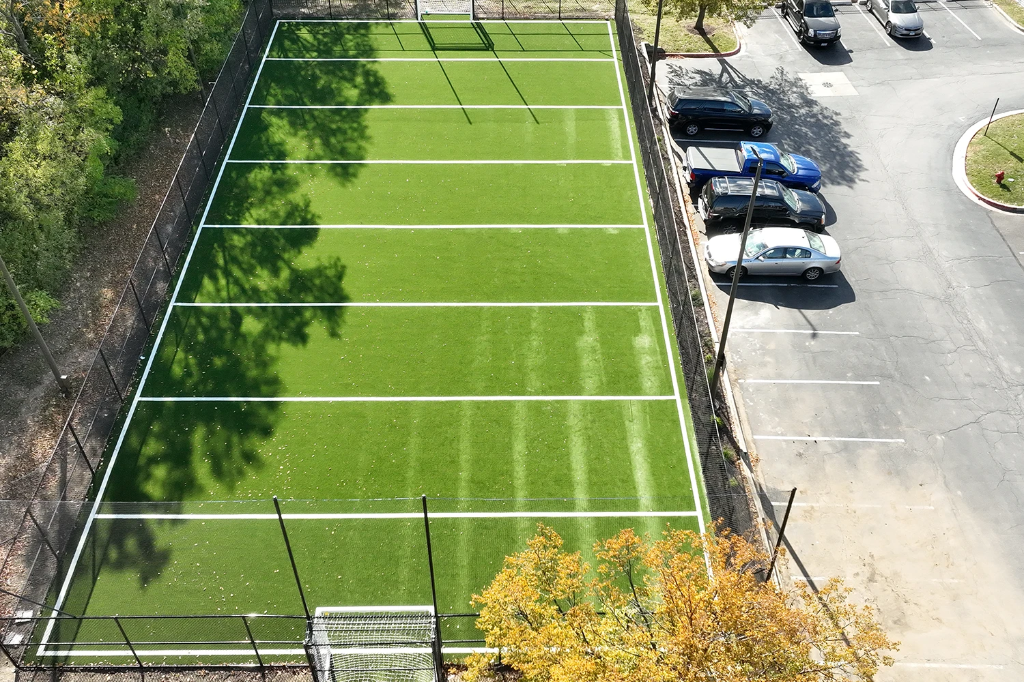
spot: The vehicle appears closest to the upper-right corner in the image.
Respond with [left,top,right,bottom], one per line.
[870,0,932,36]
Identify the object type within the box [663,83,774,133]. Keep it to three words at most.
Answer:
car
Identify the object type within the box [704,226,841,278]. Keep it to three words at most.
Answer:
car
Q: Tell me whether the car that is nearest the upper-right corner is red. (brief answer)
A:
No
